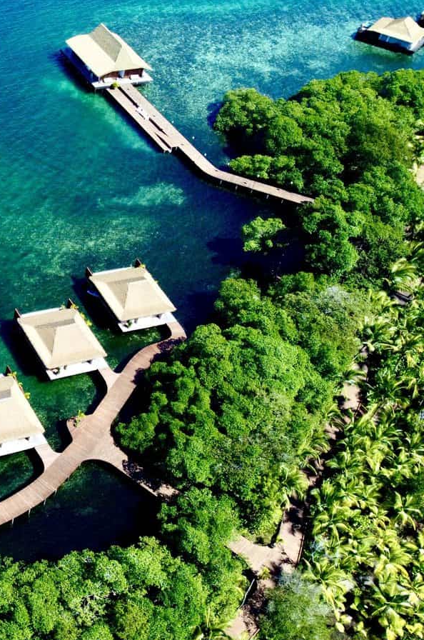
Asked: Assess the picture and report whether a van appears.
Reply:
No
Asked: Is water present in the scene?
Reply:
Yes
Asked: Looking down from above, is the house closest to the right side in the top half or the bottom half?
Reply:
top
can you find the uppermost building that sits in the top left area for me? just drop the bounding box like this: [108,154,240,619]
[64,25,154,94]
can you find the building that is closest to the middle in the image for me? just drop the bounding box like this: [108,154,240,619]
[84,262,175,338]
